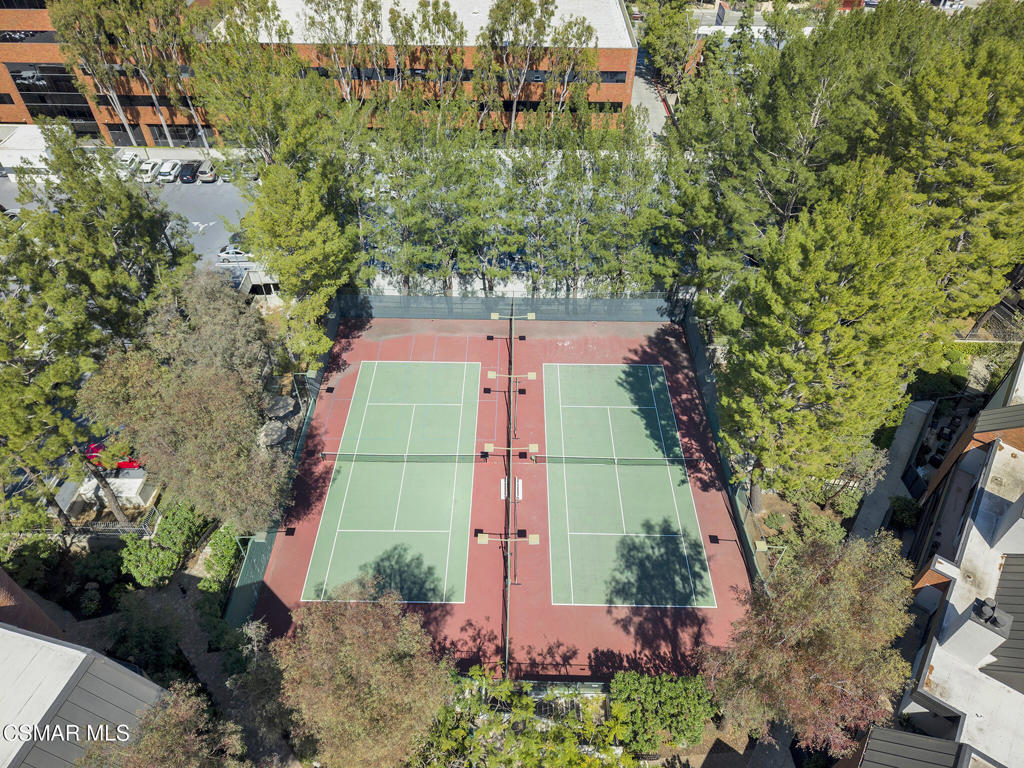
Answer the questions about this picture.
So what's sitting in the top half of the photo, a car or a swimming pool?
car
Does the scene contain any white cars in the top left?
Yes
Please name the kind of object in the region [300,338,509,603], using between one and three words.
tennis court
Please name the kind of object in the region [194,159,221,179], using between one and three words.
car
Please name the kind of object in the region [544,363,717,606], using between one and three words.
tennis court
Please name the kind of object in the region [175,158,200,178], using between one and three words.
car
